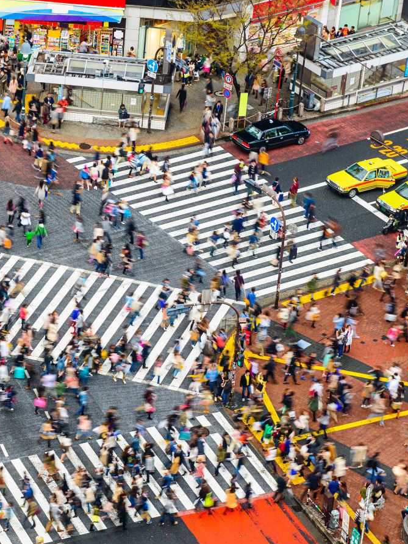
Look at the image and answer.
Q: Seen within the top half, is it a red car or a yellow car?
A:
yellow car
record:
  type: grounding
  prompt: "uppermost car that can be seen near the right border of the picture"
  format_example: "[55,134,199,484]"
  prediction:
[331,150,408,194]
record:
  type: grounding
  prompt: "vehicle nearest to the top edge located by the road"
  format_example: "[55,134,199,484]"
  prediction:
[237,110,317,150]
